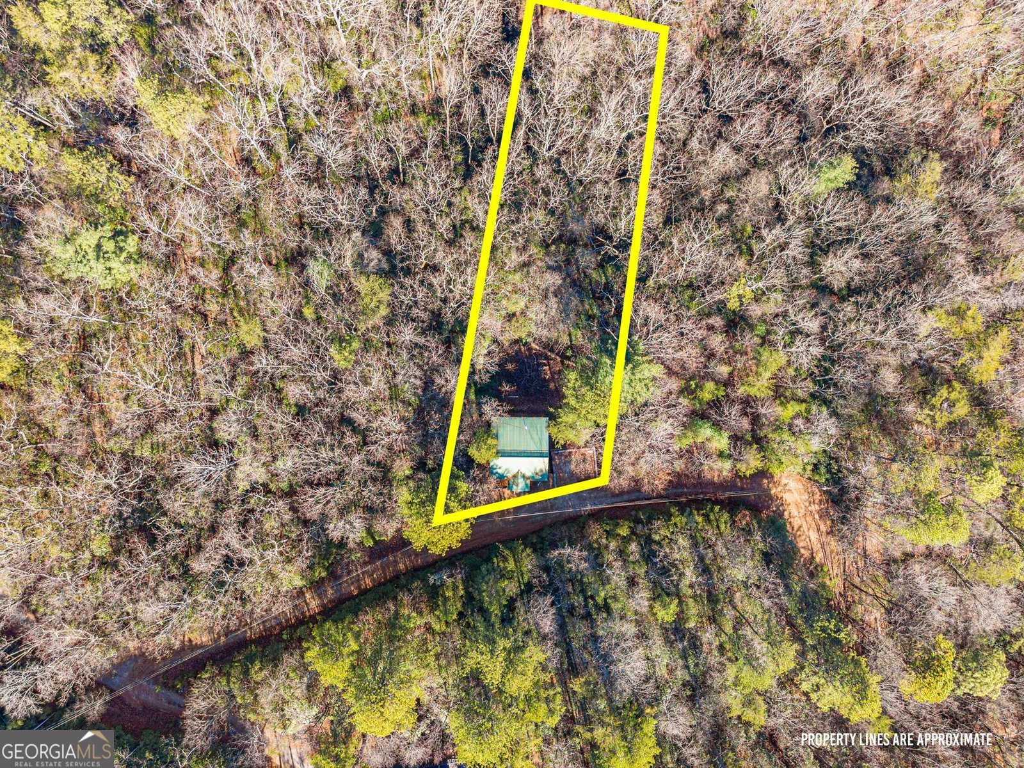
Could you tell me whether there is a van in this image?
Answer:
No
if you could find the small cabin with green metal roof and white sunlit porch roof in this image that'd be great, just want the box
[490,417,550,498]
